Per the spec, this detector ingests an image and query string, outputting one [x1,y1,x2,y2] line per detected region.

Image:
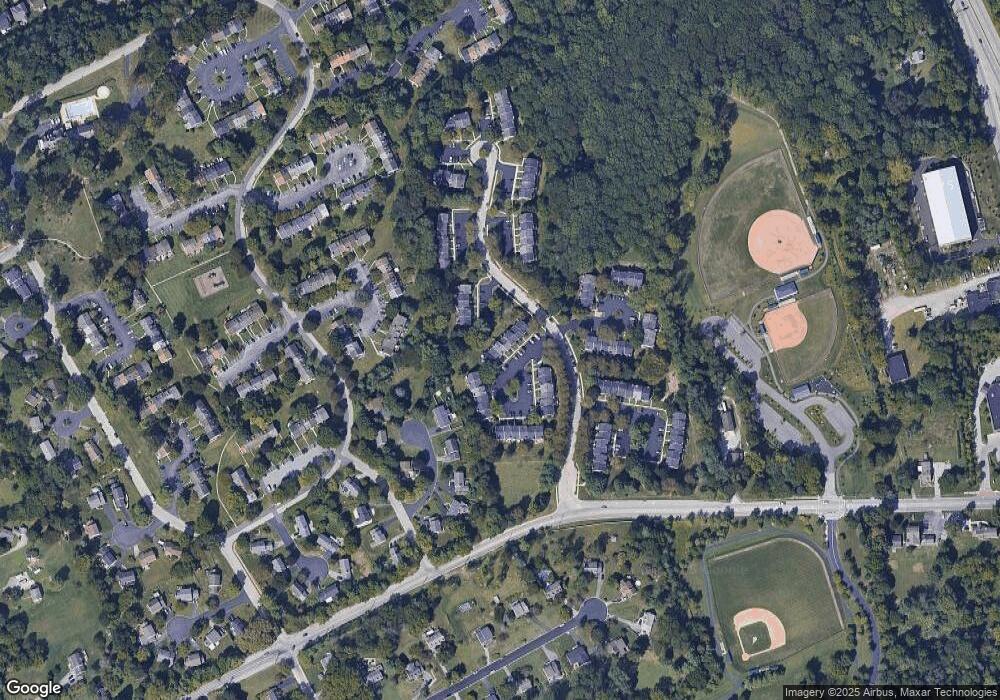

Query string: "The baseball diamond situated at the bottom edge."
[706,539,843,668]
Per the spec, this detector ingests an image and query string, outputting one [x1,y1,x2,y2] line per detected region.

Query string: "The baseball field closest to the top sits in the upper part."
[698,149,818,302]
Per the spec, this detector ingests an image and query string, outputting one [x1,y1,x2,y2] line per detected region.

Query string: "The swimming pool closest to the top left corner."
[62,97,100,123]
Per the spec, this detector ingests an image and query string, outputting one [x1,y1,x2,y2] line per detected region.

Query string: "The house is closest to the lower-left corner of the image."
[63,653,86,679]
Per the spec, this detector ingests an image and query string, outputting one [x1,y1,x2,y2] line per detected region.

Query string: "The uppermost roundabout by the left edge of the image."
[4,310,33,342]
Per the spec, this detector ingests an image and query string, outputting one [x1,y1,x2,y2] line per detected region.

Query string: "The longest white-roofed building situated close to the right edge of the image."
[923,166,973,247]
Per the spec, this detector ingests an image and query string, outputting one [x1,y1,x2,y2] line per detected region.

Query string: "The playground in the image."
[193,268,229,298]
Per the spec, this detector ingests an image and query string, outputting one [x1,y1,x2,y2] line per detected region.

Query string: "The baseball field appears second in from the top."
[764,288,837,385]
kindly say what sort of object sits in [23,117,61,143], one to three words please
house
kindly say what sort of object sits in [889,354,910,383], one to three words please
barn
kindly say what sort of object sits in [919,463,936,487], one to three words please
house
